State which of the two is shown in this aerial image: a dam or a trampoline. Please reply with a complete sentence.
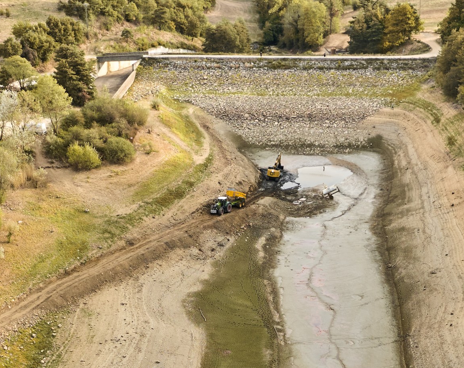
This aerial view contains a dam.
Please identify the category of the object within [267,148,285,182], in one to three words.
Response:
work vehicle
